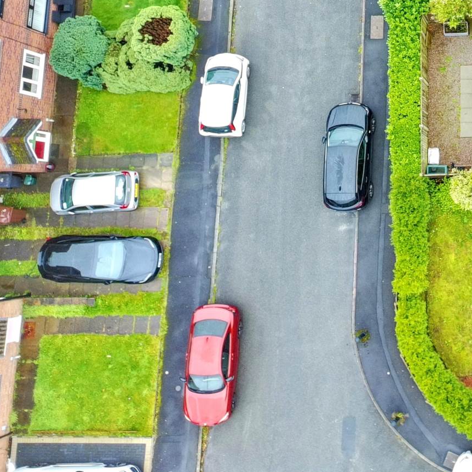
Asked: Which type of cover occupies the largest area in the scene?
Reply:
paved ground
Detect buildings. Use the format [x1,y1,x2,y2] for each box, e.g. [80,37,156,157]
[0,300,25,472]
[0,0,65,171]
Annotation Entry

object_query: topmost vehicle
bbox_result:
[197,52,249,135]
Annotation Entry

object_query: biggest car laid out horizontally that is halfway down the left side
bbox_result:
[32,231,163,289]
